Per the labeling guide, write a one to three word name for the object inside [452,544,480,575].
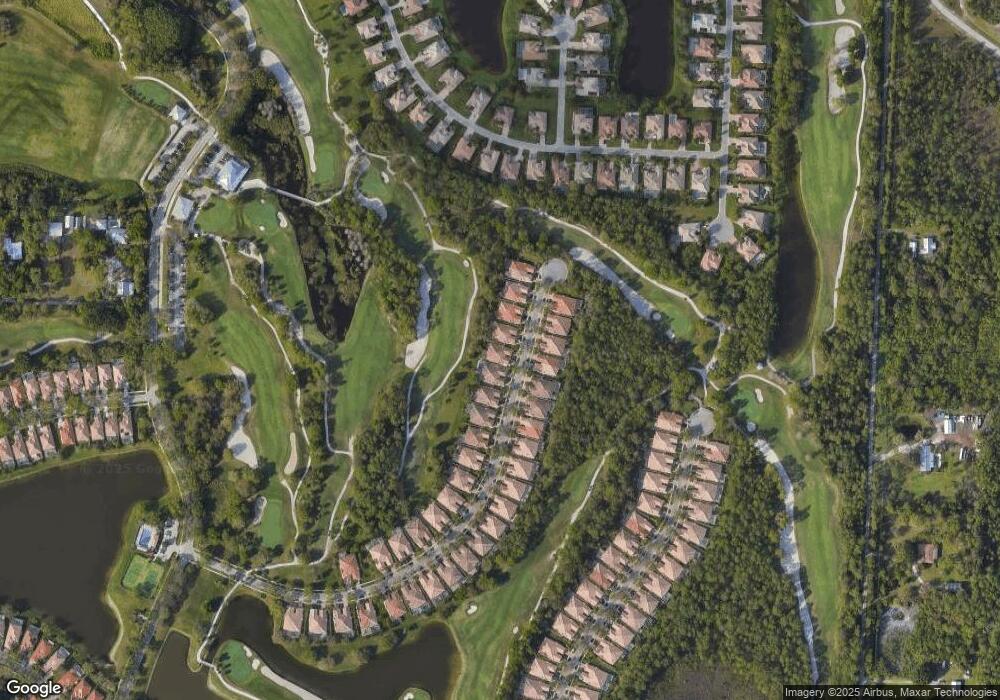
house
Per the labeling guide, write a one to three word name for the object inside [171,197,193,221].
building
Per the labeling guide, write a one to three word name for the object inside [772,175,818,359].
pond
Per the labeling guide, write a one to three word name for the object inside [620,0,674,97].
pond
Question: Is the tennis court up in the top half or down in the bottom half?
bottom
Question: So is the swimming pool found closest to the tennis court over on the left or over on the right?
left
